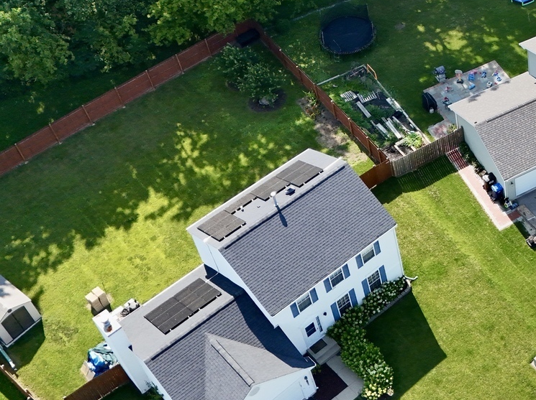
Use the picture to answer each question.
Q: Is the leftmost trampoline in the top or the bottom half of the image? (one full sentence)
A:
The top half of the photo is where the leftmost trampoline is.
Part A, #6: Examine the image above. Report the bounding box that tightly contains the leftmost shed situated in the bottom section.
[0,275,44,348]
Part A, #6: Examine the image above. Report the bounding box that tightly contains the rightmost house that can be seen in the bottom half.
[92,148,425,400]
